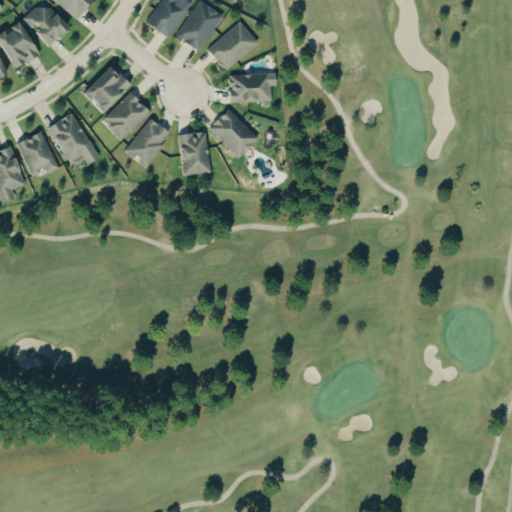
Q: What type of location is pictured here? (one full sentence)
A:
The picture captures a golf course.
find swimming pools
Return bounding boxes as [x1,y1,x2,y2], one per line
[247,149,286,188]
[244,54,276,73]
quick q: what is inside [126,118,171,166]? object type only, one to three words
house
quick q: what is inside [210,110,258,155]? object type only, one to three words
house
